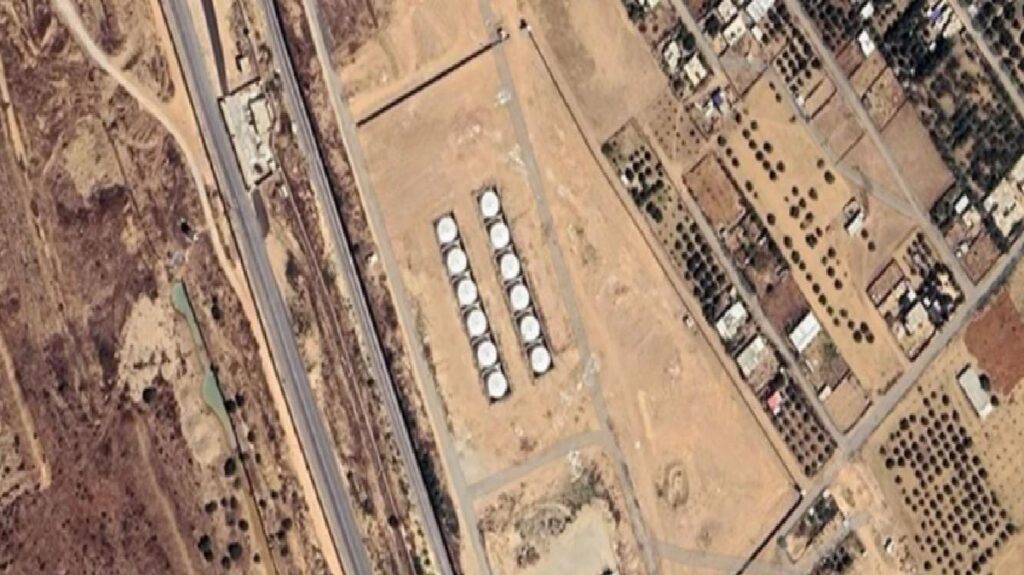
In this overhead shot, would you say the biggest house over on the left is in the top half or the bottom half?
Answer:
top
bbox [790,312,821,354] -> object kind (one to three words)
building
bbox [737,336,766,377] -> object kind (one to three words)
house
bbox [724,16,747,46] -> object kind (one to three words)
house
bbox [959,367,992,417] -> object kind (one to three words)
barn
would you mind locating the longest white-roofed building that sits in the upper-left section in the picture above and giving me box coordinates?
[250,97,271,133]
